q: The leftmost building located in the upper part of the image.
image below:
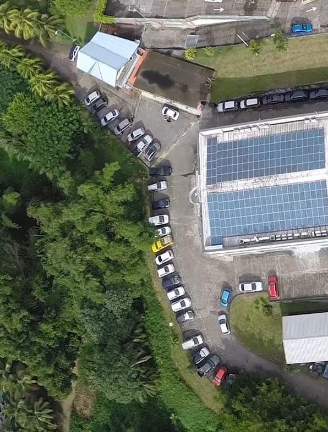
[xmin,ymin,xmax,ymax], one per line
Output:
[77,32,140,87]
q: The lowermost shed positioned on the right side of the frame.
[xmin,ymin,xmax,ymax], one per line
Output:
[283,311,328,364]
